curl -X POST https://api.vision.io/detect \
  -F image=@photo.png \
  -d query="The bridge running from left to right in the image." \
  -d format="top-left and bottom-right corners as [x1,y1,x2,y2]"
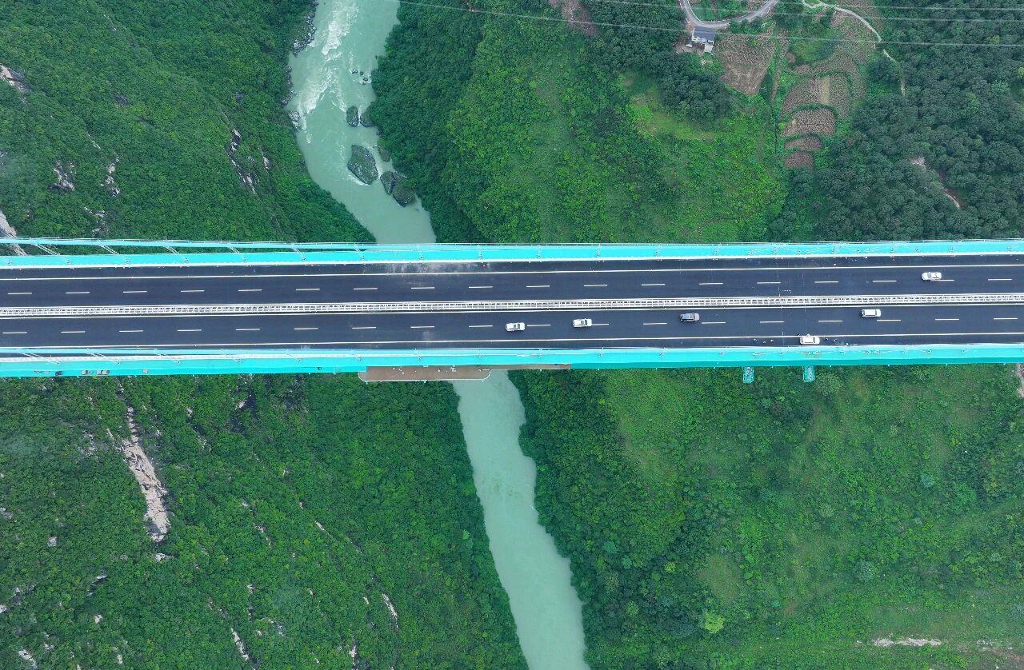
[0,239,1024,386]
